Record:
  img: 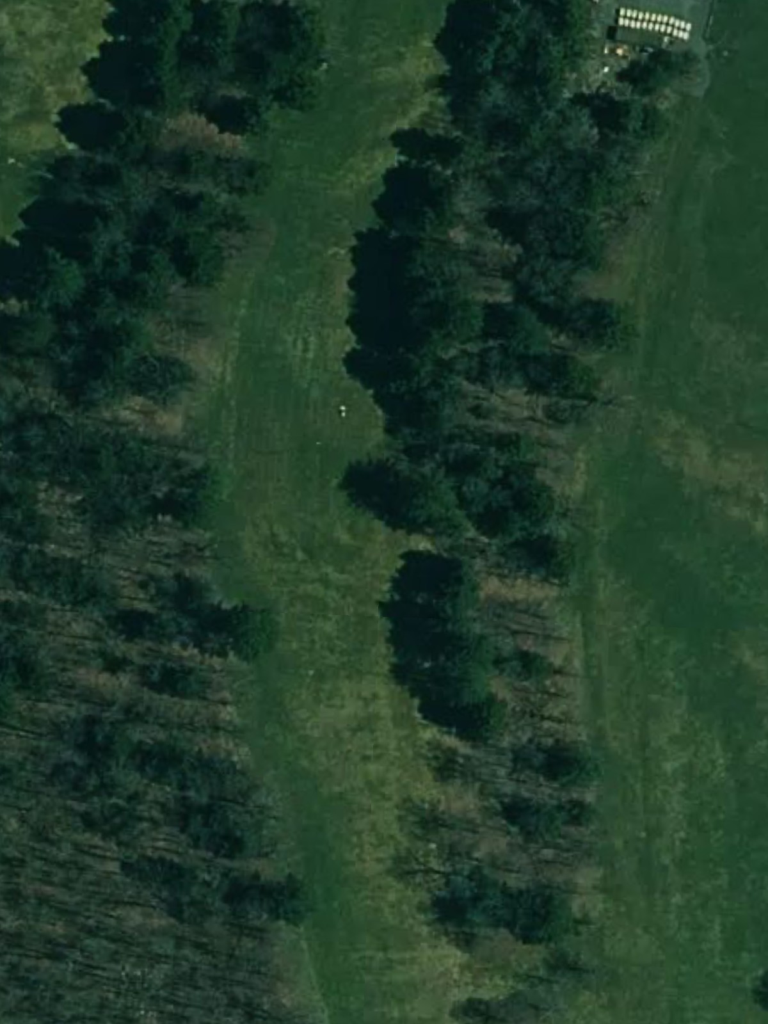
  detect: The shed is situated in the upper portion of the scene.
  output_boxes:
[615,25,663,45]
